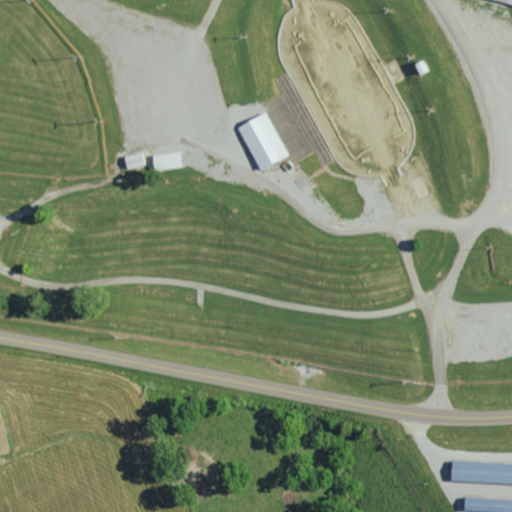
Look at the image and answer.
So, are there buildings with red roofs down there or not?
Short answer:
No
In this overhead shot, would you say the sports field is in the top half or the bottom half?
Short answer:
top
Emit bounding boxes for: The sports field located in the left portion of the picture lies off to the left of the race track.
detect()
[0,0,108,178]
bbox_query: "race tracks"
[278,0,413,188]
